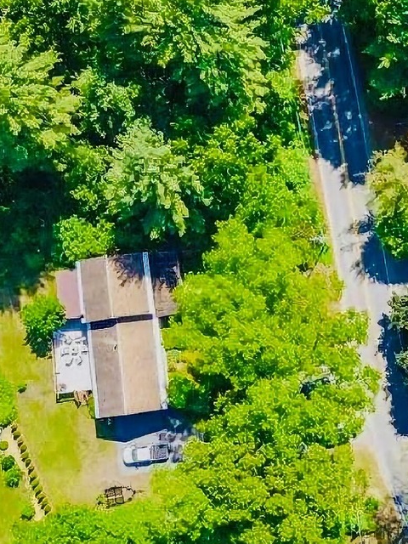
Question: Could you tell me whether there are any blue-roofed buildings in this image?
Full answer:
No, there isn't any blue-roofed building down there.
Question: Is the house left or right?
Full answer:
The house is on the left side of the image.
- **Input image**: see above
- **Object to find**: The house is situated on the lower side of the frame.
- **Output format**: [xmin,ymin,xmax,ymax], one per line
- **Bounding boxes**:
[55,250,188,418]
